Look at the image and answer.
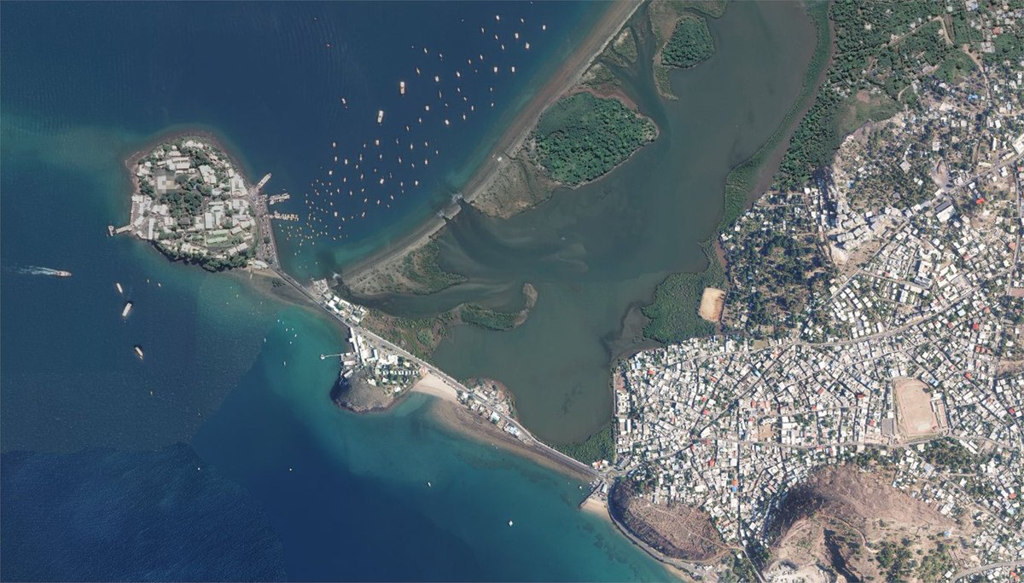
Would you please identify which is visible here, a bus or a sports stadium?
sports stadium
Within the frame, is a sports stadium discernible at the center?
No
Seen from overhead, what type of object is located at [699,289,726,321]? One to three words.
sports field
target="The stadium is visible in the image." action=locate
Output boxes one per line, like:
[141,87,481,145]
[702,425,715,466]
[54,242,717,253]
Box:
[892,373,942,441]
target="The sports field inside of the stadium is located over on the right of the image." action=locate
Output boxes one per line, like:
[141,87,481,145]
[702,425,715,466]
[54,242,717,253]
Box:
[900,380,932,431]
